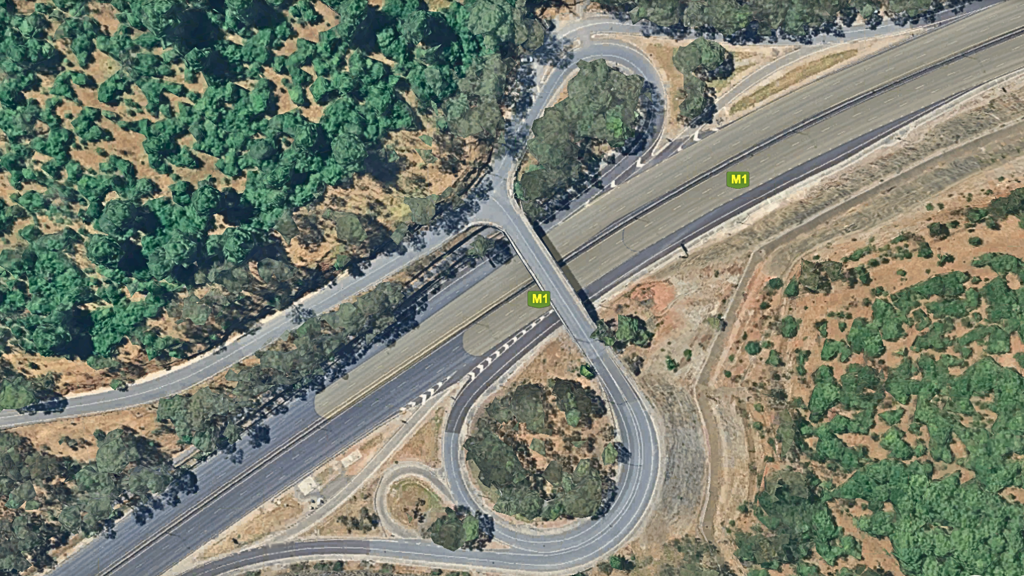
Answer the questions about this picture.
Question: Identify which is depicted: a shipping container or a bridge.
bridge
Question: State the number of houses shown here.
0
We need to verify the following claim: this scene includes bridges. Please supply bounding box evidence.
[502,212,606,349]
